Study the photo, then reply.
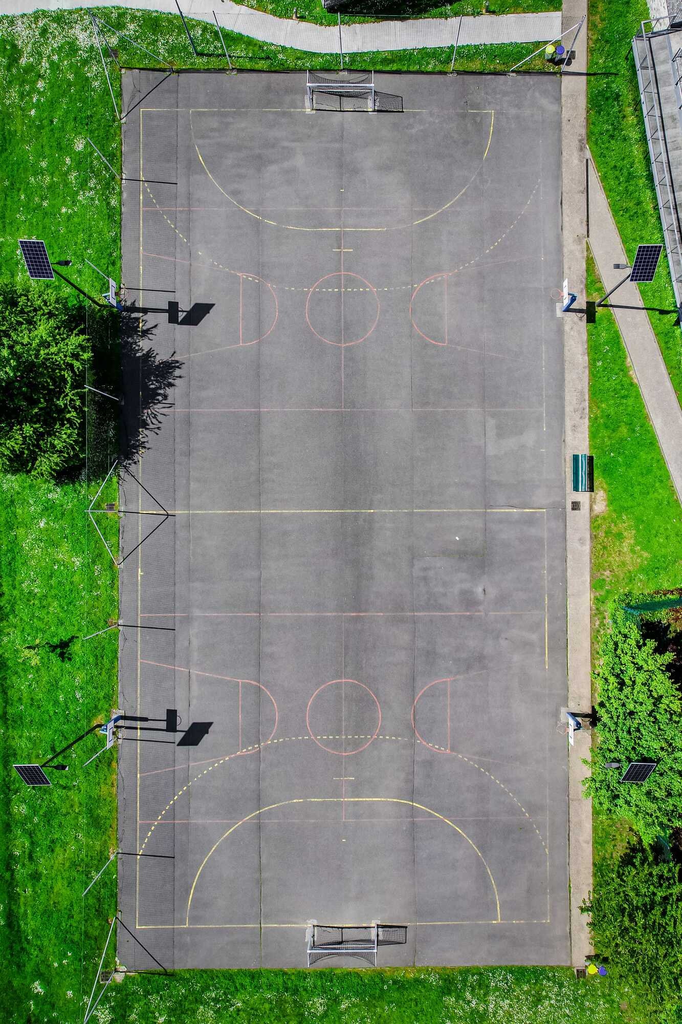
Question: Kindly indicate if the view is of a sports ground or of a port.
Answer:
sports ground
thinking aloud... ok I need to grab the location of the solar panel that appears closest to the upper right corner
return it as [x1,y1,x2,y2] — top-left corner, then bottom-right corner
[628,240,665,280]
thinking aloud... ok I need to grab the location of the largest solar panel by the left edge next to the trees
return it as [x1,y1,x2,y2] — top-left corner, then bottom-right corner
[17,239,56,278]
